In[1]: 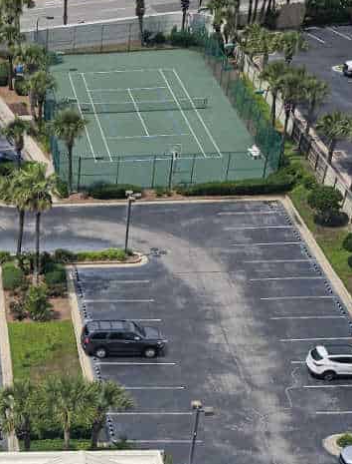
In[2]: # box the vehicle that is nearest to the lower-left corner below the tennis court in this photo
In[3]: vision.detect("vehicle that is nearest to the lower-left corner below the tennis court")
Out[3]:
[82,320,163,358]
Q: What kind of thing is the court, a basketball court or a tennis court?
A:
tennis court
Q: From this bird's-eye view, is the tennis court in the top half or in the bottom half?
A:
top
